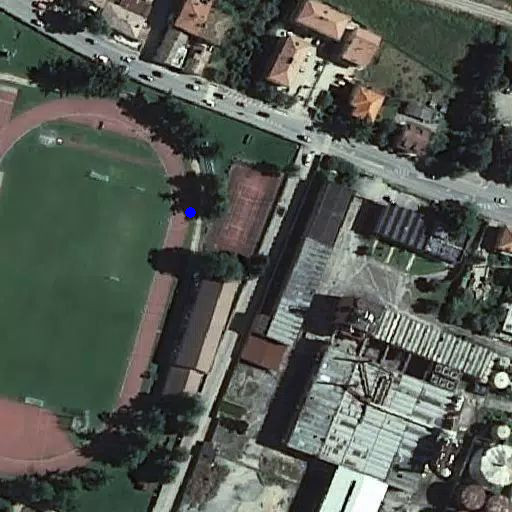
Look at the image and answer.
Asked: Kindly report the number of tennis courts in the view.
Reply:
one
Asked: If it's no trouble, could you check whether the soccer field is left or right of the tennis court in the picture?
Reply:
on its left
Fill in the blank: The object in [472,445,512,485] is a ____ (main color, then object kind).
white storage tank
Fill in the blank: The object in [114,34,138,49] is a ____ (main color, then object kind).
white vehicle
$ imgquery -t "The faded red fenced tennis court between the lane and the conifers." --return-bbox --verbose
[206,164,285,256]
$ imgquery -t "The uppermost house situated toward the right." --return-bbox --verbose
[294,0,352,42]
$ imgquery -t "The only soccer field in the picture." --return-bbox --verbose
[0,114,170,460]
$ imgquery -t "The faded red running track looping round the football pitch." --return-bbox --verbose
[0,82,188,479]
